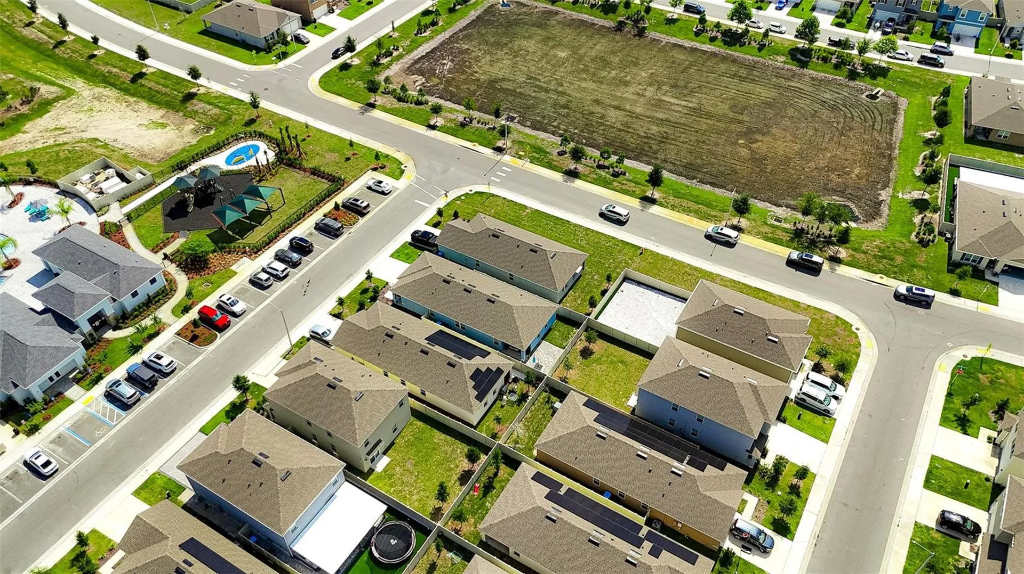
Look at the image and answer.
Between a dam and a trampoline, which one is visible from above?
trampoline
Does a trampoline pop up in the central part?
No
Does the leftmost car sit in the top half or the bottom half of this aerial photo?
bottom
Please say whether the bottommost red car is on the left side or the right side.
left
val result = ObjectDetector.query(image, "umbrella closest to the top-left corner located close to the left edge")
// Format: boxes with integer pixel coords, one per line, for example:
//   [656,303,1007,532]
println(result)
[22,194,48,214]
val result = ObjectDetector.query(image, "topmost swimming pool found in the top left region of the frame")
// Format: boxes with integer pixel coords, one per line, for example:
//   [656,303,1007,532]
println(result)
[225,146,265,163]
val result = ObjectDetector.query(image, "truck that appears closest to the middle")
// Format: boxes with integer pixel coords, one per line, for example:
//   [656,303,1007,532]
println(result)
[407,229,441,252]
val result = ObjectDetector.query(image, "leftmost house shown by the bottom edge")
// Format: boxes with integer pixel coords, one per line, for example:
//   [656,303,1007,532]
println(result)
[114,498,279,574]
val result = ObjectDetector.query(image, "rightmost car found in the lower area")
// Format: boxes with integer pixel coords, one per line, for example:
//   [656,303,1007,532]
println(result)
[931,506,986,545]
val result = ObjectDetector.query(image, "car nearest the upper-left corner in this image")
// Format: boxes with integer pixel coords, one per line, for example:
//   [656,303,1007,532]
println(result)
[289,32,312,44]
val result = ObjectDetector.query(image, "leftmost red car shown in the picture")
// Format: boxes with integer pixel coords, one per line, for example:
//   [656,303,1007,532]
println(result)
[195,306,230,333]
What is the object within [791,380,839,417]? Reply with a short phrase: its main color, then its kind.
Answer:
white car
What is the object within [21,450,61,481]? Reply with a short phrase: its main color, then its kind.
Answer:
white car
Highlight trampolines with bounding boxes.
[367,519,417,571]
